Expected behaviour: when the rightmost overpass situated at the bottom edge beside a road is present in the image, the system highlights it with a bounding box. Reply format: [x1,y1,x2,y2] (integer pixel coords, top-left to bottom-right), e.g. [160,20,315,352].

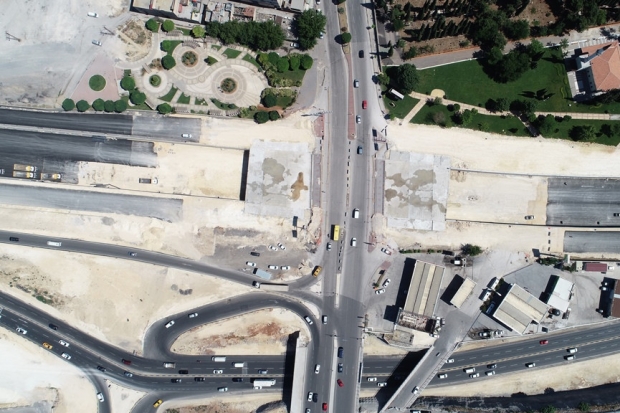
[378,332,464,413]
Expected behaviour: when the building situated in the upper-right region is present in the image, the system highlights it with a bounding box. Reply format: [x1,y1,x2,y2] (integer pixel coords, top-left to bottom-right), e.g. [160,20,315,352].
[572,41,620,98]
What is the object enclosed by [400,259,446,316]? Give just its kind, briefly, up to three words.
building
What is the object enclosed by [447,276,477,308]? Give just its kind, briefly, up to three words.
shed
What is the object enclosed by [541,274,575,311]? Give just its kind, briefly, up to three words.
building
